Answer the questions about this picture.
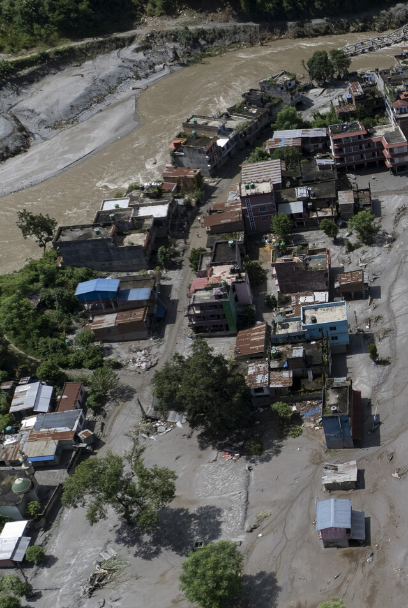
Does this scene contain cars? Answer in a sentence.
No, there isn't any car down there.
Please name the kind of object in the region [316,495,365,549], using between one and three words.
house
